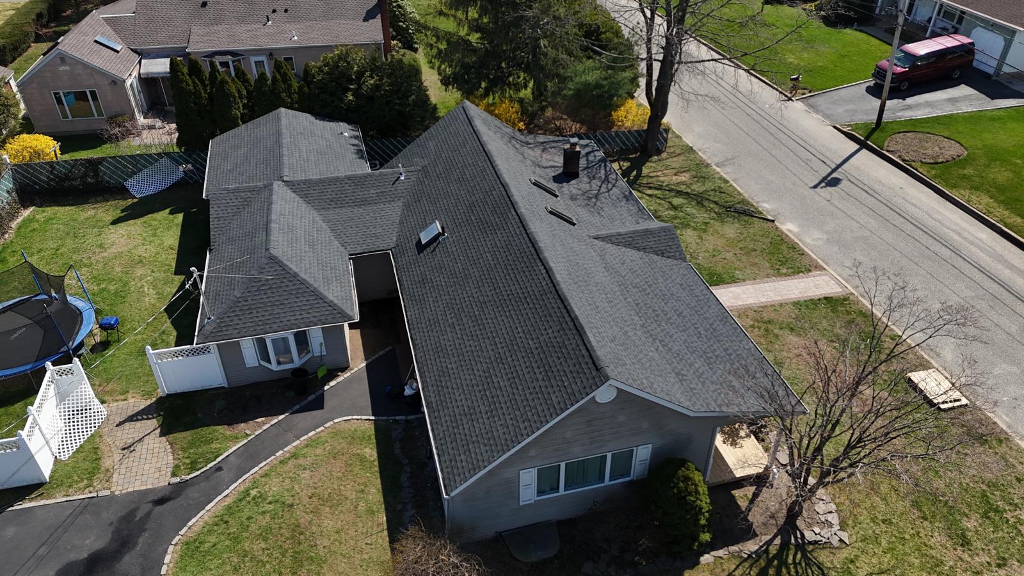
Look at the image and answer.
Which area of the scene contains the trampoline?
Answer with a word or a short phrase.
left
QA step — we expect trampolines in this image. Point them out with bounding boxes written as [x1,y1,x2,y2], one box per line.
[0,240,100,381]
